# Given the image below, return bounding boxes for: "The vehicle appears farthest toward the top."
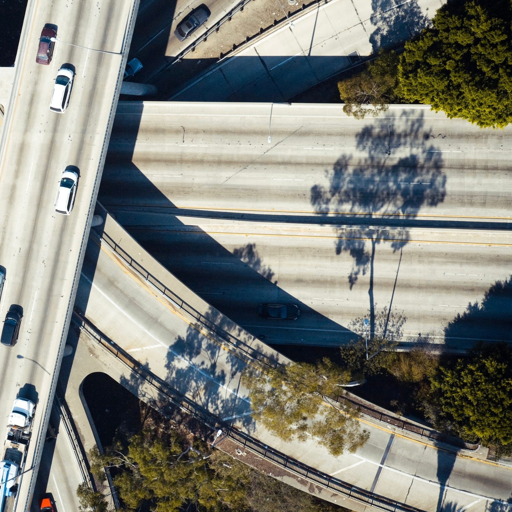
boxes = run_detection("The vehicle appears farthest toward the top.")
[173,3,212,42]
